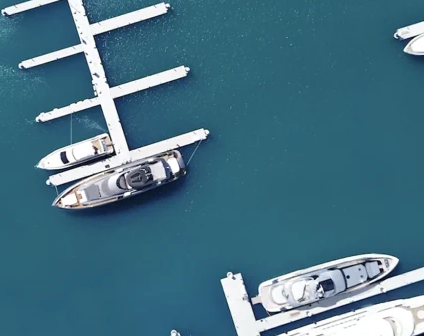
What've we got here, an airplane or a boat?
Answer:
boat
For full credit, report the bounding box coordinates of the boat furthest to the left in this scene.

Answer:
[38,118,114,168]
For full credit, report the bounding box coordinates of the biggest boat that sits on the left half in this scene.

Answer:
[53,138,202,206]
